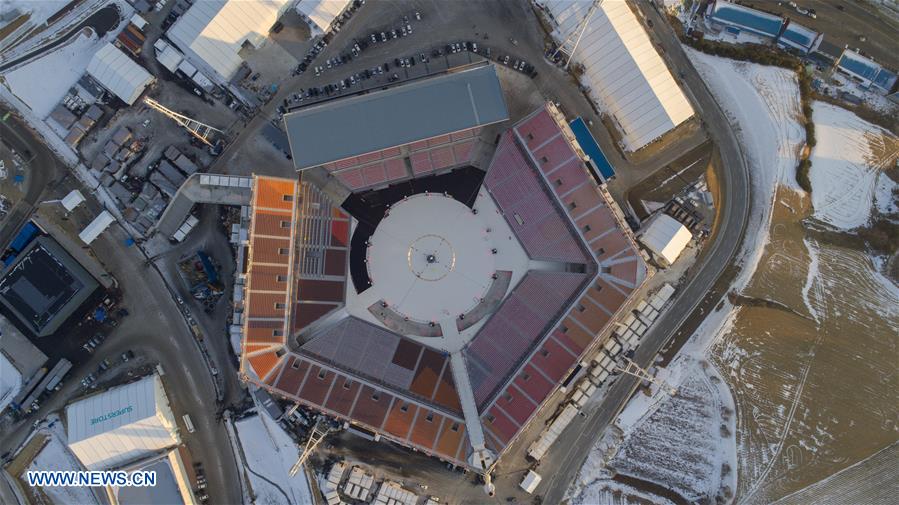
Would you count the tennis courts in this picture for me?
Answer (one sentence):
The photo contains no tennis courts.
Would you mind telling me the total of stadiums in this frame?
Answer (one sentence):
The photo contains exactly 1 stadium.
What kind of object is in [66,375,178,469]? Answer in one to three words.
building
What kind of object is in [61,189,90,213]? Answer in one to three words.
tent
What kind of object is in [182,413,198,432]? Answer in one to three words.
vehicle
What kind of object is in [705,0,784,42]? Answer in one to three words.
house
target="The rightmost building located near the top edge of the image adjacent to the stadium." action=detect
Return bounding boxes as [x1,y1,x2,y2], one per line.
[525,0,695,154]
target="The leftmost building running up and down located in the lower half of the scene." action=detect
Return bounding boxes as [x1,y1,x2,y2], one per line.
[0,351,28,418]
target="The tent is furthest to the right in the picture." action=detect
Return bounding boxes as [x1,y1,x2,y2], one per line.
[637,213,693,264]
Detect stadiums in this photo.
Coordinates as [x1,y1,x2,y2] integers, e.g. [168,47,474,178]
[239,58,651,476]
